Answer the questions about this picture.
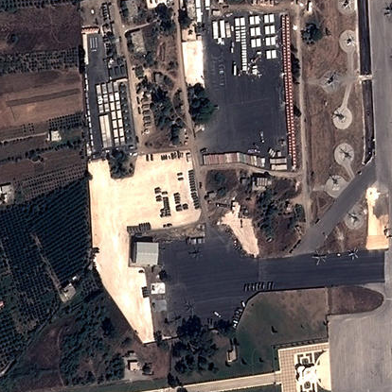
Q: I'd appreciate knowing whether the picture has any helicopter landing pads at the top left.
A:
No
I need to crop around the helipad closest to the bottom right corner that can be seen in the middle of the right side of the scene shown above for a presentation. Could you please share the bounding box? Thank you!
[345,207,363,228]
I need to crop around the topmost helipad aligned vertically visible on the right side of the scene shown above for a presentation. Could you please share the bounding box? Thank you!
[340,32,356,74]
